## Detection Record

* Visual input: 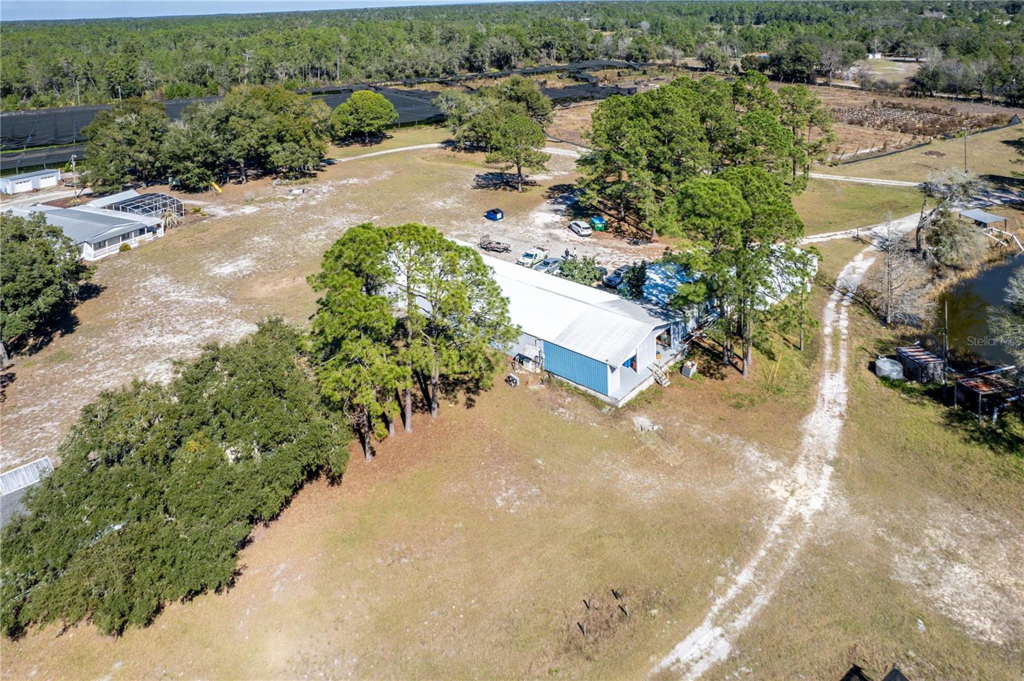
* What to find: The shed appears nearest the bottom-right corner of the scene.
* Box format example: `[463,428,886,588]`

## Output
[893,342,948,383]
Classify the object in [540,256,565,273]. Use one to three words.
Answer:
car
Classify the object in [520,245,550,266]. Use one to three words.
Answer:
truck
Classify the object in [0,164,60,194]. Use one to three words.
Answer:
building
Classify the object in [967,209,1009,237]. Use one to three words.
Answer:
building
